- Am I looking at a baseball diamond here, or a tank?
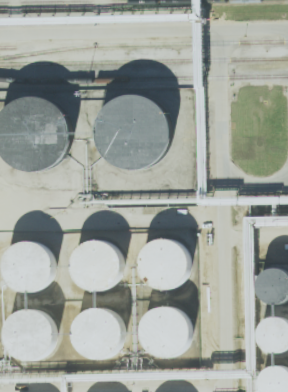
tank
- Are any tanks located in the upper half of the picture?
Yes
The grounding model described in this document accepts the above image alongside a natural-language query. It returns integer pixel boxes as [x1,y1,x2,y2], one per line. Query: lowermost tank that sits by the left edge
[2,310,57,362]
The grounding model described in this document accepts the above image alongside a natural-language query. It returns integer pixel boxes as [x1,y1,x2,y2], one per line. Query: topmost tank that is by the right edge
[254,268,288,308]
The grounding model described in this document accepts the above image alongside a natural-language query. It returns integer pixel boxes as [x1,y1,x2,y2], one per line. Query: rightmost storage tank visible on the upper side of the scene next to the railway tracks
[93,95,174,174]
